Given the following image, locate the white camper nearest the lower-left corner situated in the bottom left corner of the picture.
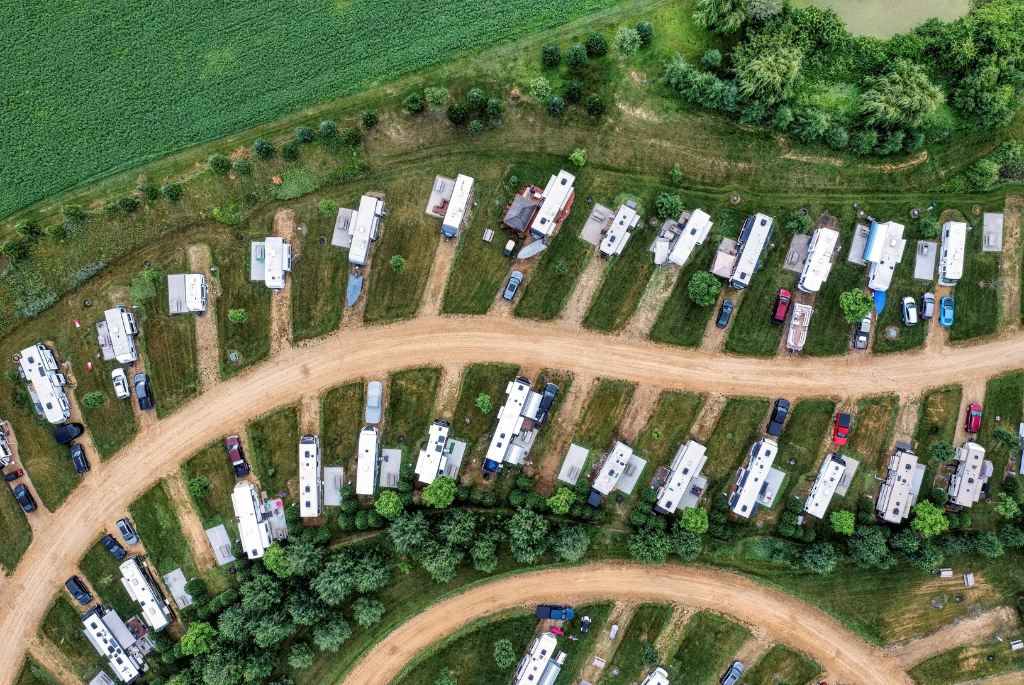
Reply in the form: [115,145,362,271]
[83,609,145,685]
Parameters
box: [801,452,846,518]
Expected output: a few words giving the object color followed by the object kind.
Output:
white camper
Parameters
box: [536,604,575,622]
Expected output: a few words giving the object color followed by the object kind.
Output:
blue vehicle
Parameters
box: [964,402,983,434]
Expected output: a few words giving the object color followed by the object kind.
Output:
red car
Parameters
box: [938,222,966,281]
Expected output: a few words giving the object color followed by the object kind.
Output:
white camper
